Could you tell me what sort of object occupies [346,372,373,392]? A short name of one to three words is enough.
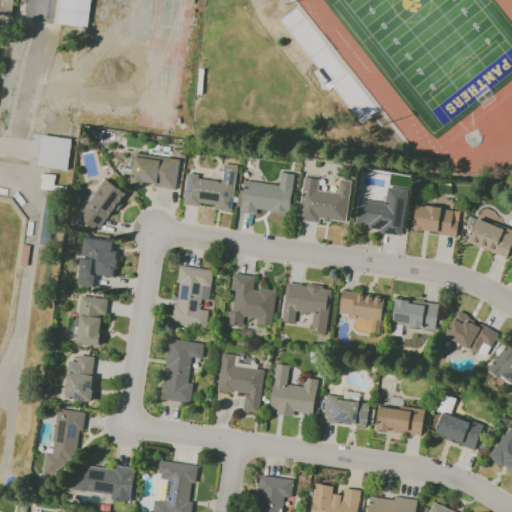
swimming pool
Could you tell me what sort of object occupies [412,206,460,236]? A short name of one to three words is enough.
house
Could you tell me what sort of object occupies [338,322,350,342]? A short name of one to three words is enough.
swimming pool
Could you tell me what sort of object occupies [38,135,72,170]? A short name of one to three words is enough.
building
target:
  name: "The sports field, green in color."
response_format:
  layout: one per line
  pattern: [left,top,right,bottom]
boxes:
[325,0,512,140]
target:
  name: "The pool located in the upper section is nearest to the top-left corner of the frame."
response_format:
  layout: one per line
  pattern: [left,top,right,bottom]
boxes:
[82,152,99,178]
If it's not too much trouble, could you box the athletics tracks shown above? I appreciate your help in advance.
[298,0,512,174]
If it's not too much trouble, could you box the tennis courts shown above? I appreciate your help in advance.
[138,0,188,127]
